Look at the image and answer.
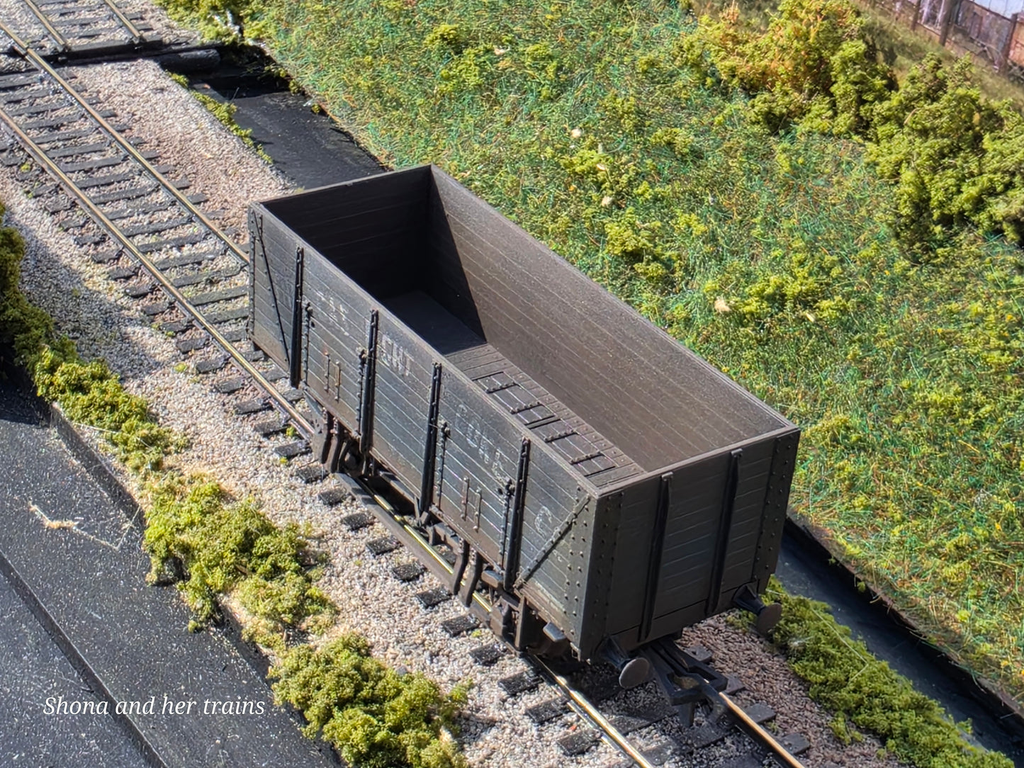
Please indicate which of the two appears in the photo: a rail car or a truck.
rail car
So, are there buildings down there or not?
No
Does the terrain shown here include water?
No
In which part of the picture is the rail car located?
center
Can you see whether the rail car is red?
No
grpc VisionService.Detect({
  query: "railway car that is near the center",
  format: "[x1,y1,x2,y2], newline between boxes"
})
[246,166,798,722]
